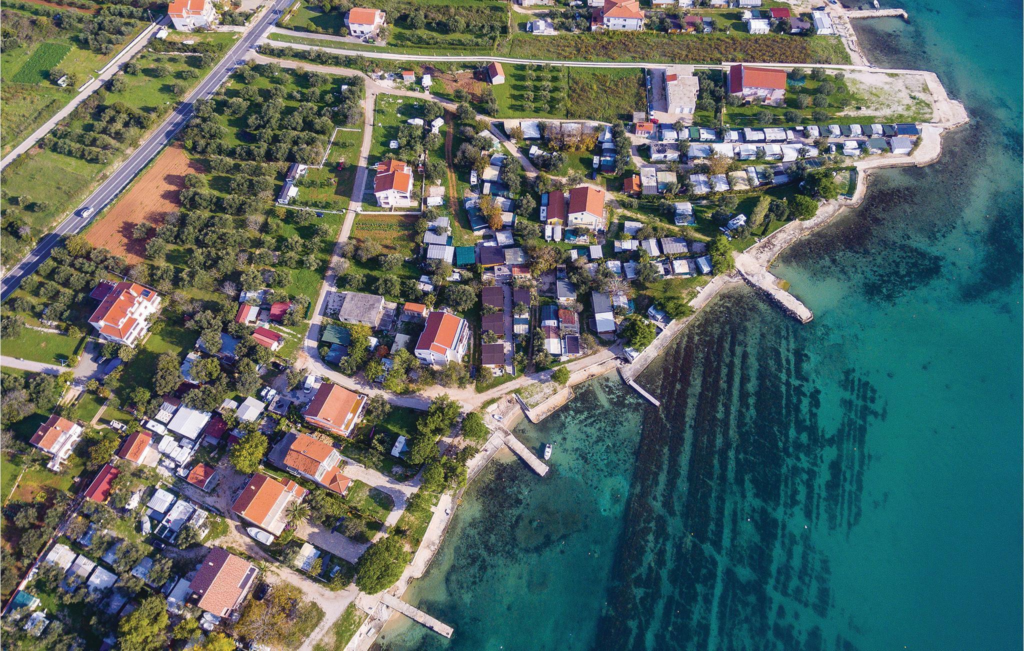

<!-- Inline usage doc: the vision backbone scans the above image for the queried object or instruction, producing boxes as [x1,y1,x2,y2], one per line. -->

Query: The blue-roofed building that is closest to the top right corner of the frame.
[889,123,919,142]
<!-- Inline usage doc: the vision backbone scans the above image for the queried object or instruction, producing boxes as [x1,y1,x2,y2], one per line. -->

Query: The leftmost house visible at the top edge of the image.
[169,0,223,29]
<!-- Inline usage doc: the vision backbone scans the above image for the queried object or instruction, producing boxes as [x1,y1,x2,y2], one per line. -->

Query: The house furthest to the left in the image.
[29,415,93,470]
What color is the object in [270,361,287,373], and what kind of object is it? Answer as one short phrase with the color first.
black vehicle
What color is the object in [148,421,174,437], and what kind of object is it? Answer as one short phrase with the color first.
white camper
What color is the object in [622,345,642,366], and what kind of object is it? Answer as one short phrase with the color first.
white vehicle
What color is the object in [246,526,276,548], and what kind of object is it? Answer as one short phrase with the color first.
white boat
